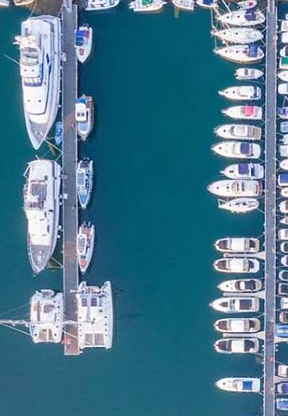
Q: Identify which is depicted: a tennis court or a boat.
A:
boat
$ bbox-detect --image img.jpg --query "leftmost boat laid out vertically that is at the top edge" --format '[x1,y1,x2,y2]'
[18,0,63,152]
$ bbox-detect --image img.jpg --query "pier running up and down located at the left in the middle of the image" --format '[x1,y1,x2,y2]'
[62,4,80,356]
